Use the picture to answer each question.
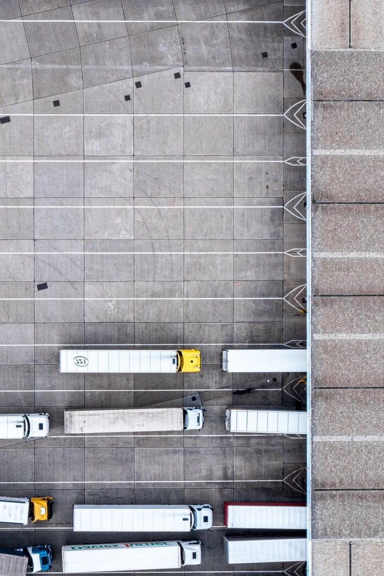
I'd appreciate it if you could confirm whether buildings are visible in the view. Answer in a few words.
No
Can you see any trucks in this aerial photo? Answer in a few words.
Yes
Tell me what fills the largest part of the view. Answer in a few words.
paved ground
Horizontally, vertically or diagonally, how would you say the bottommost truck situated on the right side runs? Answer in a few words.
horizontally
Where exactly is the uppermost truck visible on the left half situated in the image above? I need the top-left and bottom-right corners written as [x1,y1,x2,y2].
[58,349,202,374]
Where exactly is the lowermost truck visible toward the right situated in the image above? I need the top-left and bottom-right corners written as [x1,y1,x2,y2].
[224,533,307,564]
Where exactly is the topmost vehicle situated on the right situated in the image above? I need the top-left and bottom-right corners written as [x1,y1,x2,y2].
[223,350,307,372]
